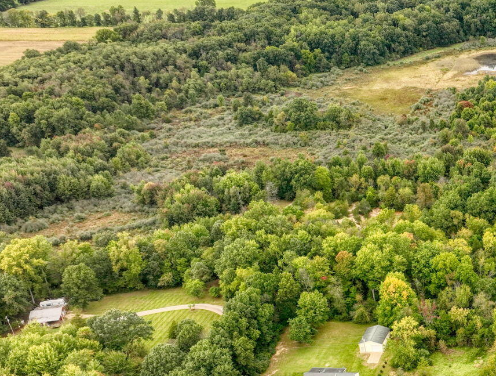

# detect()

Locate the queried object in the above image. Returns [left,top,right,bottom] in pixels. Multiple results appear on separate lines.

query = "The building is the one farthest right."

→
[358,321,387,354]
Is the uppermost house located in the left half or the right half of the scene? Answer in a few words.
left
